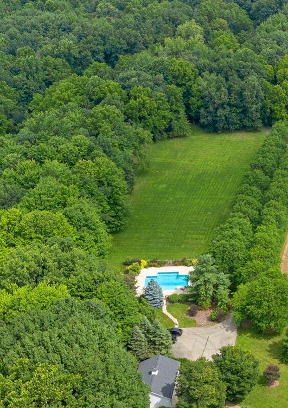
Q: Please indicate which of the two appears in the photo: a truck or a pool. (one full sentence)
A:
The image shows a pool.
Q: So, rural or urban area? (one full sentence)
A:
From above, the setting appears rural.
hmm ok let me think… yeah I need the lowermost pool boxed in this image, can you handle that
[134,264,194,300]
